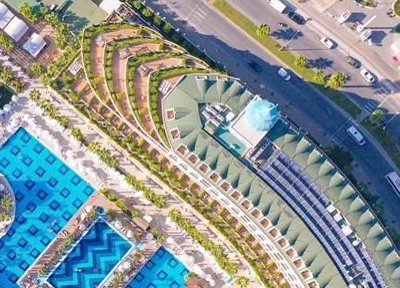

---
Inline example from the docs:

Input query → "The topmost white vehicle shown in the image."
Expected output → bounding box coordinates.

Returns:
[267,0,290,13]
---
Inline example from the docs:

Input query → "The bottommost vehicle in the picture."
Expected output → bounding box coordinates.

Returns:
[386,171,400,197]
